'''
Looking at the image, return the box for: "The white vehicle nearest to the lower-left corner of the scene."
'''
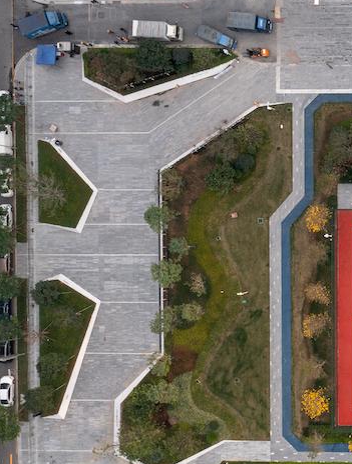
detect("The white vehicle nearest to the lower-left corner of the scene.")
[0,375,16,406]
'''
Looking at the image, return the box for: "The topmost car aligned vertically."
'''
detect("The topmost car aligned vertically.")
[0,128,13,157]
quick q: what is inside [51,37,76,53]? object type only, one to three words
vehicle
